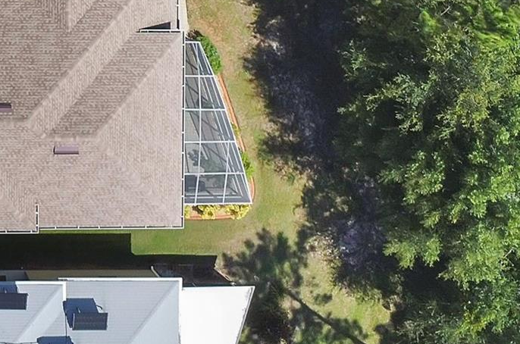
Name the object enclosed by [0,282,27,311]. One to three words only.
solar panel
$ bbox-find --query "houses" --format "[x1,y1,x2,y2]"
[0,266,253,344]
[0,0,186,237]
